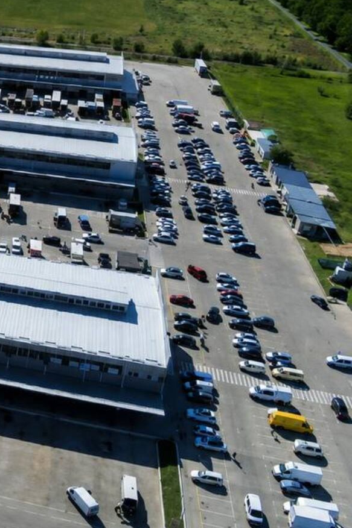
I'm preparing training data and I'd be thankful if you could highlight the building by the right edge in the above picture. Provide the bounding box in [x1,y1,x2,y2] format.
[249,163,347,241]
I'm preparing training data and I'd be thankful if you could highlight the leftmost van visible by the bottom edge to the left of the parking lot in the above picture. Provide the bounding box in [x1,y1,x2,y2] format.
[60,486,108,525]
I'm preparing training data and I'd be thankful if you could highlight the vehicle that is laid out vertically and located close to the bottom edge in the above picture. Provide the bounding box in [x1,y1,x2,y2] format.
[118,476,141,516]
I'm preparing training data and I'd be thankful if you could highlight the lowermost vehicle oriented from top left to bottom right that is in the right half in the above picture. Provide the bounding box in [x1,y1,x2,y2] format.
[238,494,269,526]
